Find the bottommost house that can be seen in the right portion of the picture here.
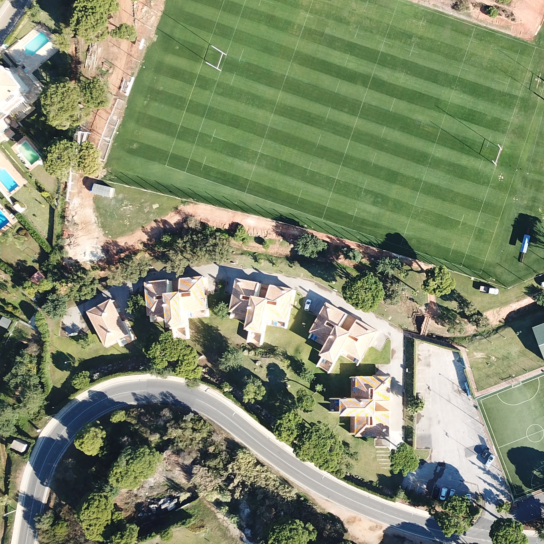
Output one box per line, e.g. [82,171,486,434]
[330,373,392,437]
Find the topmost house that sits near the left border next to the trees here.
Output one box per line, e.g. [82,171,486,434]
[0,66,38,140]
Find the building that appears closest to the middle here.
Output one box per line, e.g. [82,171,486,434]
[230,279,300,346]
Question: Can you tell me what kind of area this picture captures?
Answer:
sports ground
